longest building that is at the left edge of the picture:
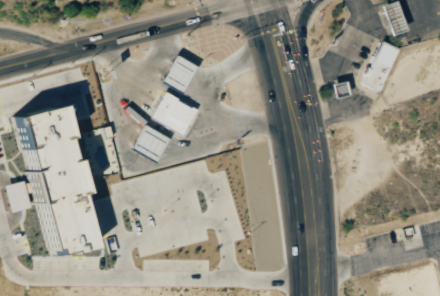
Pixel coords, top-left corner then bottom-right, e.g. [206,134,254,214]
[14,106,104,254]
